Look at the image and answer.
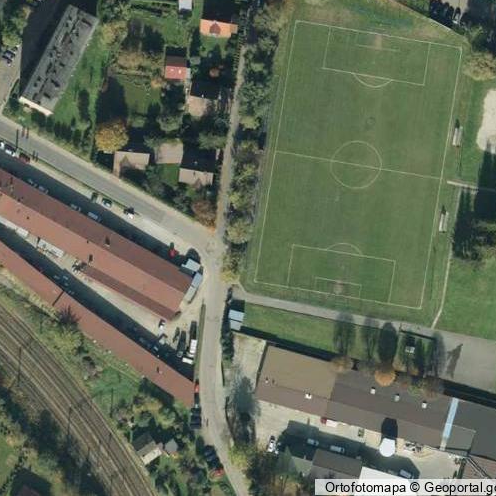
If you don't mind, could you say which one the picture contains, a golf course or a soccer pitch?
soccer pitch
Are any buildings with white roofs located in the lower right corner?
Yes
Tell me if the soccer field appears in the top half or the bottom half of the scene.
top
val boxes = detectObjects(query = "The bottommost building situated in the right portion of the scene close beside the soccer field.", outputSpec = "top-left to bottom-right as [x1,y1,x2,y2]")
[255,345,496,460]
